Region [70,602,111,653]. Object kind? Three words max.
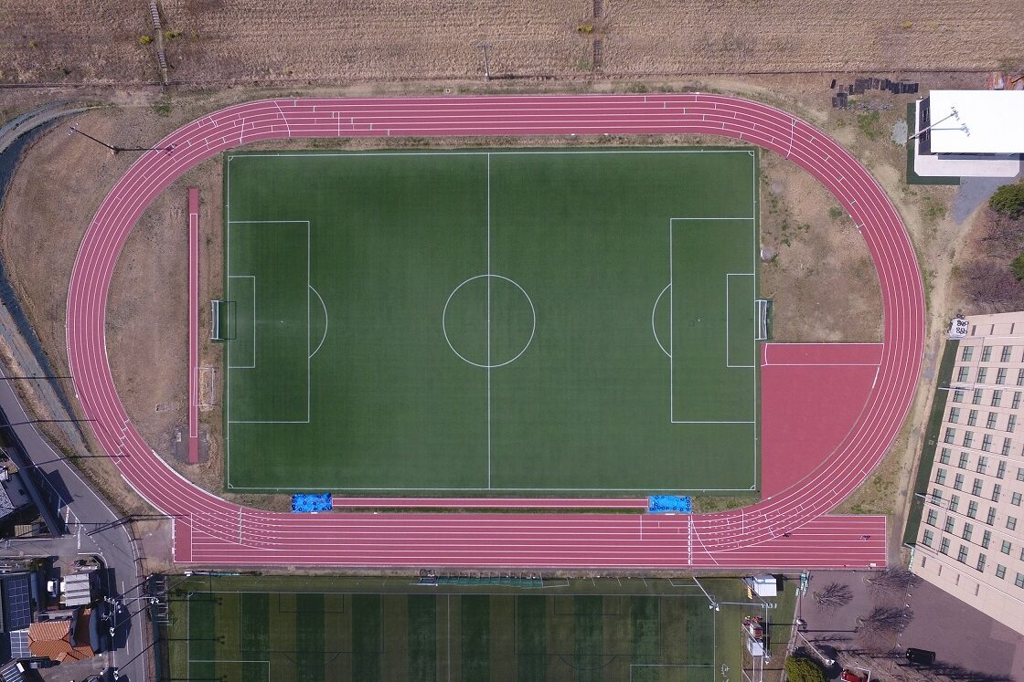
house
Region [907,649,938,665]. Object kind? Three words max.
car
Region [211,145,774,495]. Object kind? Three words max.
soccer field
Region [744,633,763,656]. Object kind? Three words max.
shed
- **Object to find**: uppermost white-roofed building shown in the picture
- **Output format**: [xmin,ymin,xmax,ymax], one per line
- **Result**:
[914,89,1024,177]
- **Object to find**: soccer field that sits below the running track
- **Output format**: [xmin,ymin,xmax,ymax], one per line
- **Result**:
[183,587,720,682]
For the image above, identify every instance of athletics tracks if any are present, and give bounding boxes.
[66,92,925,569]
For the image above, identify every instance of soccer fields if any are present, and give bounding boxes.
[211,145,774,495]
[183,587,720,682]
